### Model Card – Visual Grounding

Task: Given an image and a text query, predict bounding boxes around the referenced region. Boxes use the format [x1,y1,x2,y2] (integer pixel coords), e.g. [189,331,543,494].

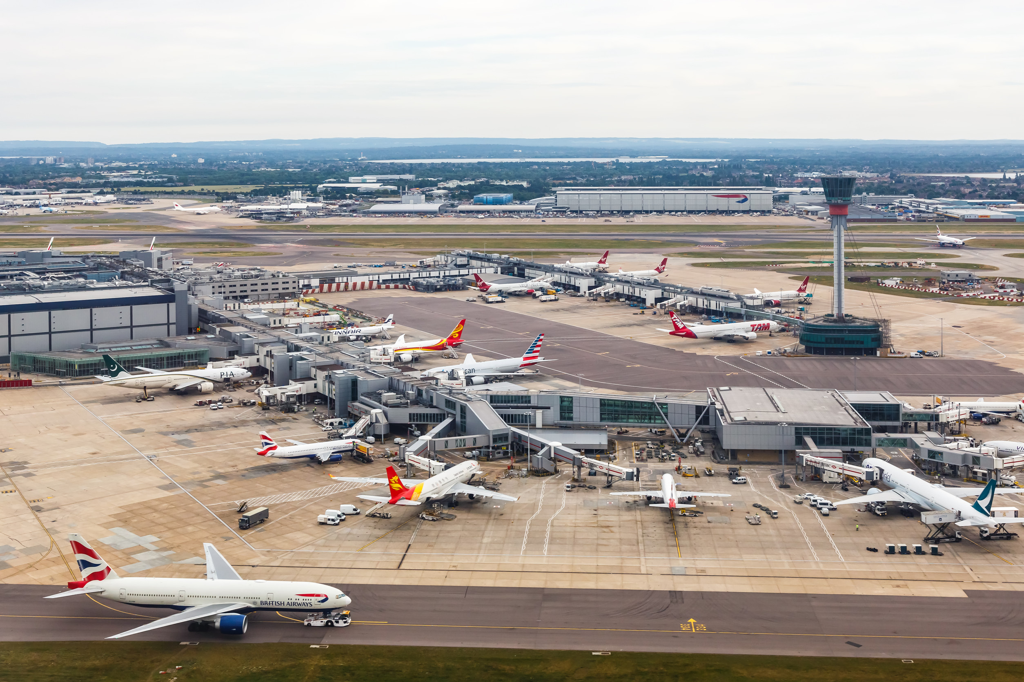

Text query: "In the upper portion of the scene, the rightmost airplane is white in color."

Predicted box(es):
[919,224,975,248]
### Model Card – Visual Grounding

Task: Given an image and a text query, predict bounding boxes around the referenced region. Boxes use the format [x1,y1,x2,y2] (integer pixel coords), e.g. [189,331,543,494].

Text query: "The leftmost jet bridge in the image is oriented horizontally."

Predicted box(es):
[206,356,251,370]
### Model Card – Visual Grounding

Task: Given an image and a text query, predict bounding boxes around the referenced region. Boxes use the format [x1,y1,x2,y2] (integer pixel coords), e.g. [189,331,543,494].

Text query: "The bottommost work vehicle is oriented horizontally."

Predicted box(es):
[305,611,351,627]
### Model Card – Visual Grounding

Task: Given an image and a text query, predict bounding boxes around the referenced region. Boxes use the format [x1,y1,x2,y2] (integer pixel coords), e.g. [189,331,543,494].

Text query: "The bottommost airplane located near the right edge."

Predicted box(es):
[833,455,1024,527]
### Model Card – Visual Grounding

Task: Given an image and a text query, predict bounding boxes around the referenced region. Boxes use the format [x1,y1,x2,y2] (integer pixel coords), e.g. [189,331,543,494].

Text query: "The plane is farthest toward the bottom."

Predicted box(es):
[42,533,352,641]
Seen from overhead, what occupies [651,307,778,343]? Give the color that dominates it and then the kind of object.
white airplane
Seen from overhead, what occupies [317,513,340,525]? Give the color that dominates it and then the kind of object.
white vehicle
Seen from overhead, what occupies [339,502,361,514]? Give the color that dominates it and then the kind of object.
white vehicle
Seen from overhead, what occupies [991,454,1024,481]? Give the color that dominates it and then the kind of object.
white jet bridge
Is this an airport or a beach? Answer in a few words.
airport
